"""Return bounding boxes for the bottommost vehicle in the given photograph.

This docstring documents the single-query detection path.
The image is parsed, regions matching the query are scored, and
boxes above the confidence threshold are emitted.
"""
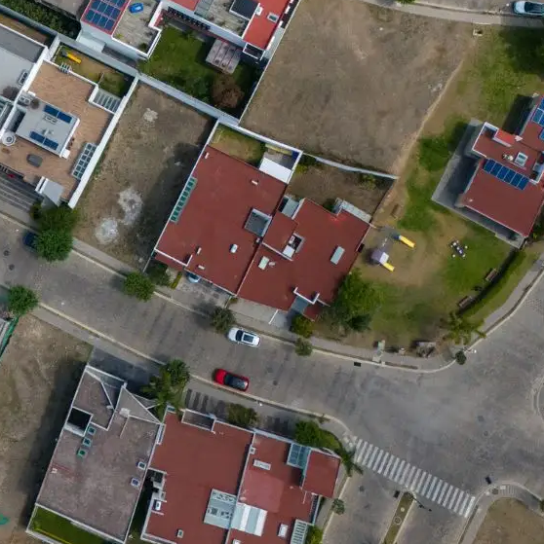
[213,368,249,391]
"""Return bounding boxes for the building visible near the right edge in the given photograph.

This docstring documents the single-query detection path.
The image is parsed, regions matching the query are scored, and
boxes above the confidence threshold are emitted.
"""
[454,93,544,238]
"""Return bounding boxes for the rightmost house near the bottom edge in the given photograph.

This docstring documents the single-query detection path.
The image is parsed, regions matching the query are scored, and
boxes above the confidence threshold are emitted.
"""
[223,423,341,544]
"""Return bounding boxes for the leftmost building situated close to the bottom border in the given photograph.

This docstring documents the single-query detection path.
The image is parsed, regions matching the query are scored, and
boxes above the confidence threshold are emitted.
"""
[34,361,161,543]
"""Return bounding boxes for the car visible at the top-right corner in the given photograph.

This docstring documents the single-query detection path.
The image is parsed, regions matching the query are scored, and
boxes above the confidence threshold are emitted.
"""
[512,0,544,16]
